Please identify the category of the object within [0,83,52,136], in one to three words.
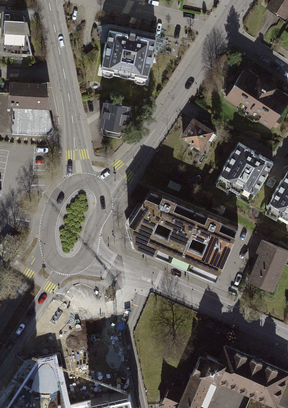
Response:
house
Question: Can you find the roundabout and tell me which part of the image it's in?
left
